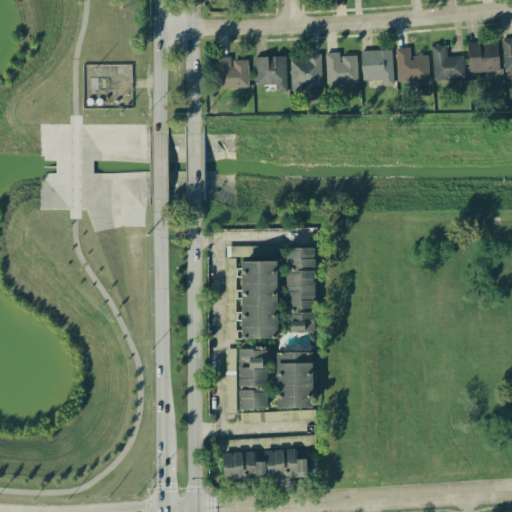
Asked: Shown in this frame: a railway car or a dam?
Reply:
dam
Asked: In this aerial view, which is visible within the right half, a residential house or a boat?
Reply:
residential house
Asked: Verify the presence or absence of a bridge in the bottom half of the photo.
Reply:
No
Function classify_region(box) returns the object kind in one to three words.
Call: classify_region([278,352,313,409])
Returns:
building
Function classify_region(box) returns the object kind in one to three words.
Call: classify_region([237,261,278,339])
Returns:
building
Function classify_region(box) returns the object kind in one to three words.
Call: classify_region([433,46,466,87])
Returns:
house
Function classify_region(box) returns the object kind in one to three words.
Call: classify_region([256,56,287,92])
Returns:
house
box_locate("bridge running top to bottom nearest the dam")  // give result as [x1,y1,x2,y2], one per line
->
[152,126,169,204]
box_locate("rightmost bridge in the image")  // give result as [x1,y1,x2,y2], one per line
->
[186,126,206,201]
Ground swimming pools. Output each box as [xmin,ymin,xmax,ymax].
[280,333,314,351]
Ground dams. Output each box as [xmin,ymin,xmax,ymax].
[41,116,147,232]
